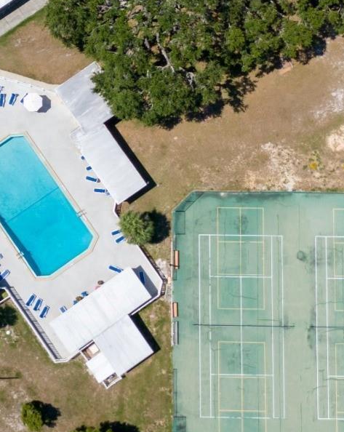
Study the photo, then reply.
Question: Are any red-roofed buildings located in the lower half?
No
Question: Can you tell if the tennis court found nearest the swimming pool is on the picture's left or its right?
right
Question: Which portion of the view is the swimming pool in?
left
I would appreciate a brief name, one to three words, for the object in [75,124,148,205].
building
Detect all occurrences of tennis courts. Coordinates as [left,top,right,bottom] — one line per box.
[173,191,302,432]
[300,192,344,432]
